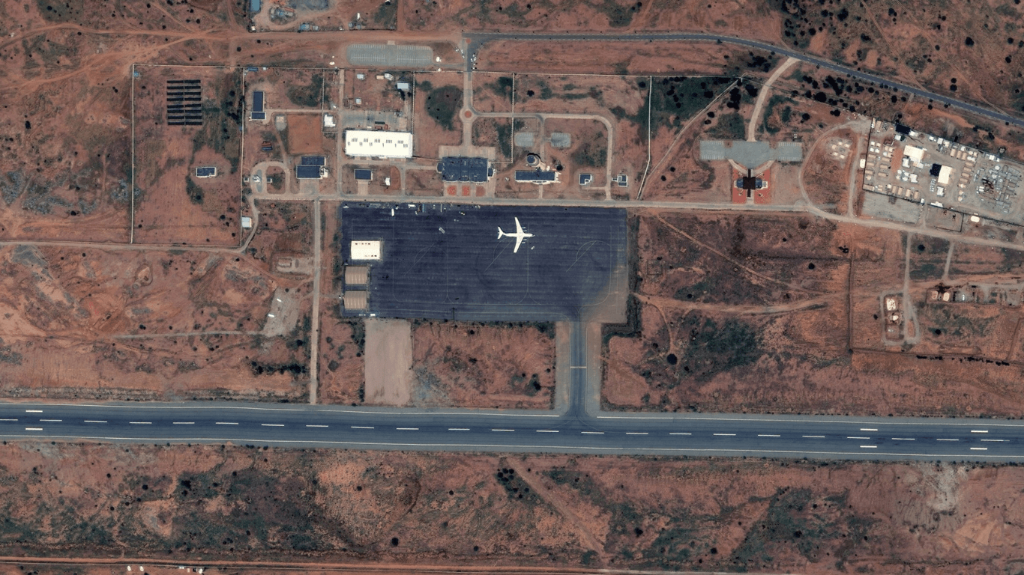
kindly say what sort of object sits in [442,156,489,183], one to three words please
building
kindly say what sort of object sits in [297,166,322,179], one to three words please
building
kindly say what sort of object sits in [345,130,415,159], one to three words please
hangar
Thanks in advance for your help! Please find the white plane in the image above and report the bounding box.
[498,216,535,252]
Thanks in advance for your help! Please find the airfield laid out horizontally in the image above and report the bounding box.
[0,203,1024,463]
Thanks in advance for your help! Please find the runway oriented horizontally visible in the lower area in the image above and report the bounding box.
[0,401,1024,463]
